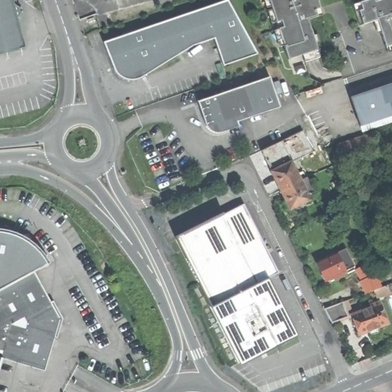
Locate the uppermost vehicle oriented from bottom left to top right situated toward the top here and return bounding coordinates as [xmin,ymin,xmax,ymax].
[187,44,204,58]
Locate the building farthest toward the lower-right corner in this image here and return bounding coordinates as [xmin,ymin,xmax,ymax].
[348,302,390,336]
